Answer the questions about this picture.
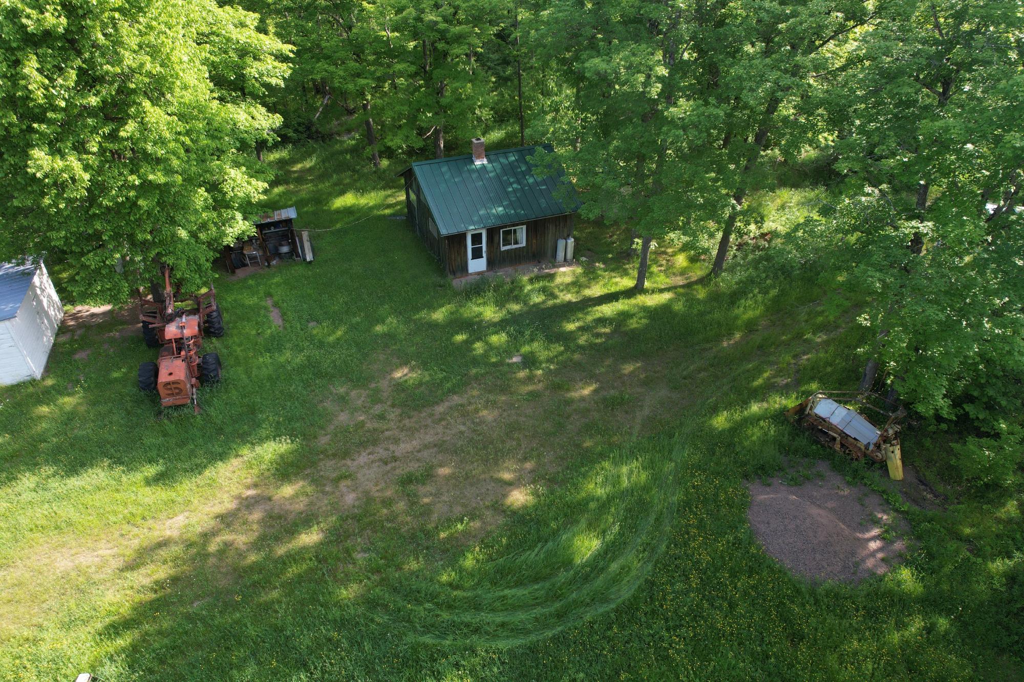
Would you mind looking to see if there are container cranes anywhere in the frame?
No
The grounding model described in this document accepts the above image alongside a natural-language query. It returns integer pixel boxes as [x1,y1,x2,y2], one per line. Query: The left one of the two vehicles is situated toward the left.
[134,255,228,408]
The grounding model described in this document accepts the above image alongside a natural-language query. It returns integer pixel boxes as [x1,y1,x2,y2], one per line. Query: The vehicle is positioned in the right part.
[783,393,907,487]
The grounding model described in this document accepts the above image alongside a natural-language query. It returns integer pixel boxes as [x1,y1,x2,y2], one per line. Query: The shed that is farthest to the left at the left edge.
[0,248,65,376]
